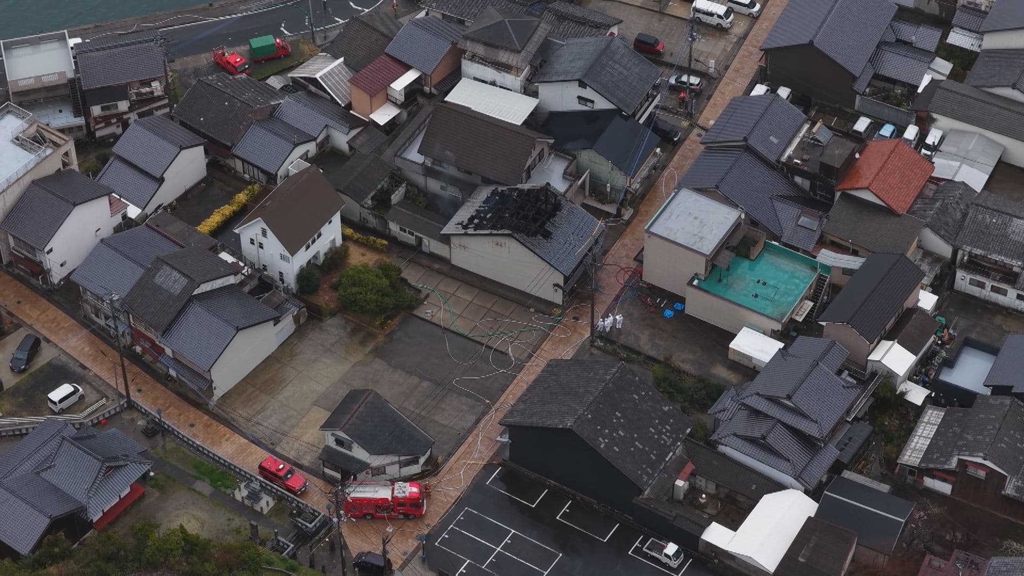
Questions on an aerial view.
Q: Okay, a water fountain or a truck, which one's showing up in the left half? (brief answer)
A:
truck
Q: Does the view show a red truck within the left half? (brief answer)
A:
Yes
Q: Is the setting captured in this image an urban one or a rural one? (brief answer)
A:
urban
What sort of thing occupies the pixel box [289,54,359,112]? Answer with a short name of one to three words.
shed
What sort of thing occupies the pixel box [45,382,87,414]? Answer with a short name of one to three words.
car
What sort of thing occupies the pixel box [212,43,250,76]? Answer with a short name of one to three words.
truck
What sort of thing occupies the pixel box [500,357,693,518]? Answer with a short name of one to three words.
house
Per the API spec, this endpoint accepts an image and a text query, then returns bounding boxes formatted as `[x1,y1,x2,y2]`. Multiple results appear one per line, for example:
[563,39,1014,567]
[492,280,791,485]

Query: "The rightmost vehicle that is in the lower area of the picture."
[644,535,685,566]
